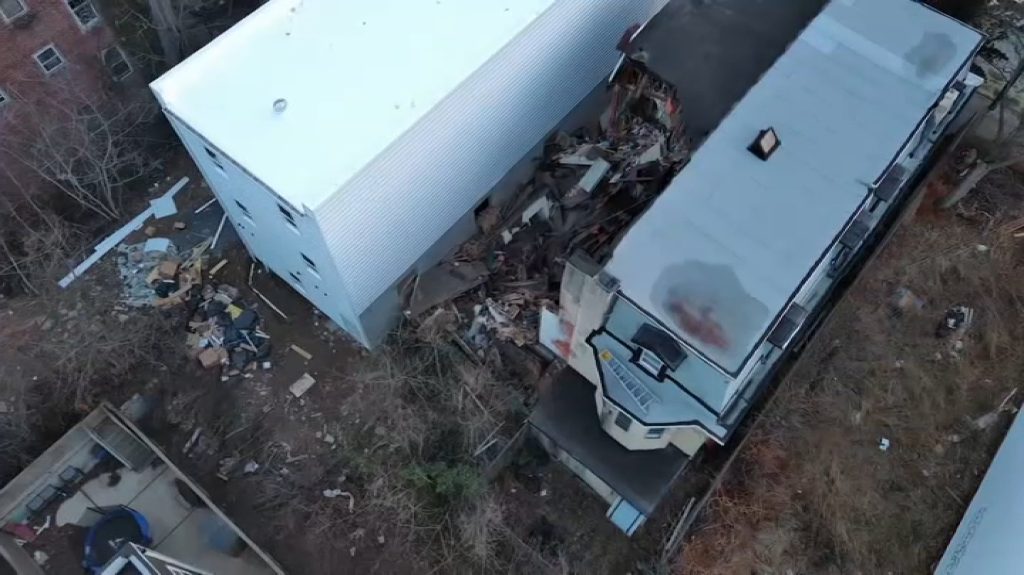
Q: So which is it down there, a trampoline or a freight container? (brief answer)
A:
trampoline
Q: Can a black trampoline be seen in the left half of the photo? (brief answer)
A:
Yes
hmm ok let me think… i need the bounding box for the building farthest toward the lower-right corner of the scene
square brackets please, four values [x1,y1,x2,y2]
[934,403,1024,575]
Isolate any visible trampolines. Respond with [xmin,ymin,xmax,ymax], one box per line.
[81,501,157,574]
